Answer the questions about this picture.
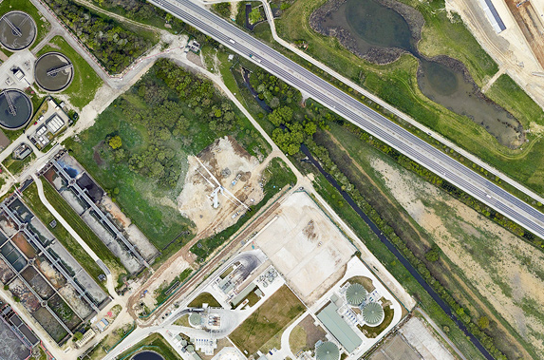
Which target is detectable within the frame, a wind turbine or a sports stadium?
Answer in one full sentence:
Visible in the photo is a wind turbine.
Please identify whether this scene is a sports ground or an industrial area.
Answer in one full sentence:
This image shows an industrial area.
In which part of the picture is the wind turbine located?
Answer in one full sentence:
The wind turbine is located in the center region of the scene.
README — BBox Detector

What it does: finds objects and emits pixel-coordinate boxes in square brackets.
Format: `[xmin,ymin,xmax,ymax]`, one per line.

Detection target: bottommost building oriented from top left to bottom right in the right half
[317,302,363,354]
